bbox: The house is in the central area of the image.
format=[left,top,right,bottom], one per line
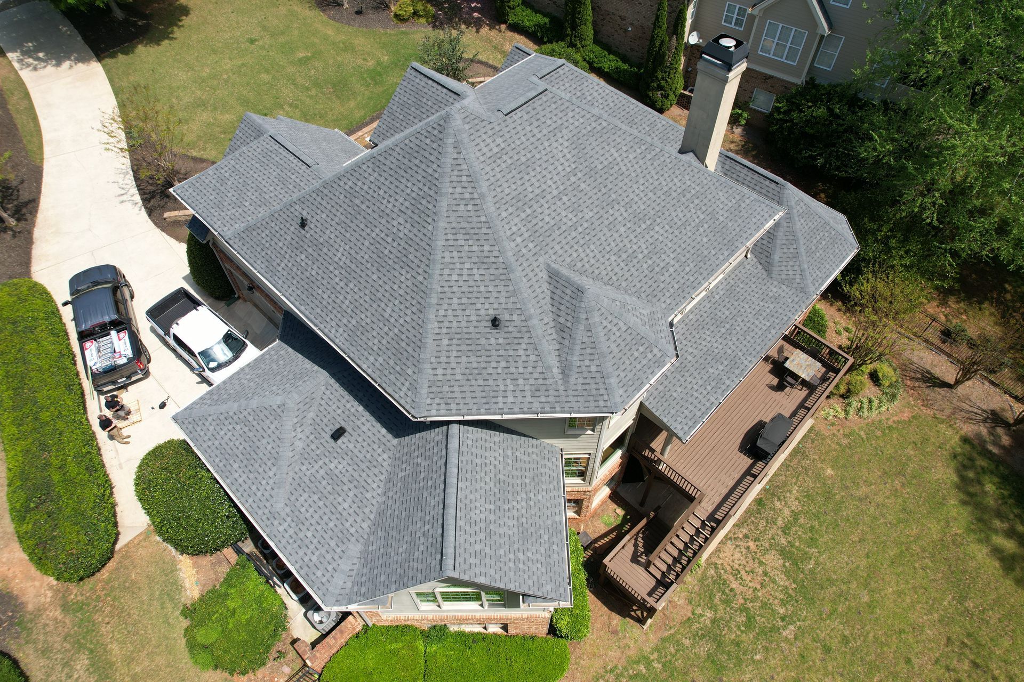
[169,34,863,635]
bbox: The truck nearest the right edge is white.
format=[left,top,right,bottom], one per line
[145,289,257,387]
